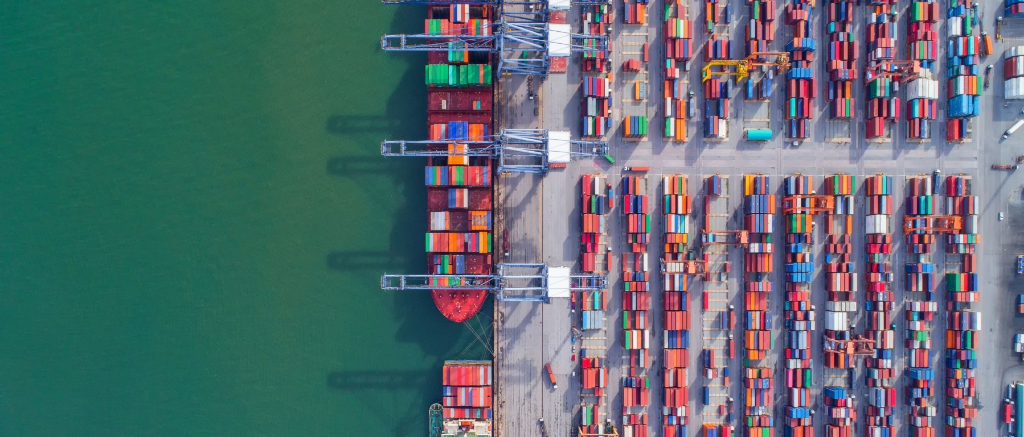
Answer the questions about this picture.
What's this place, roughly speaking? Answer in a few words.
port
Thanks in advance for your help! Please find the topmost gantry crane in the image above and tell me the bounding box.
[379,0,609,43]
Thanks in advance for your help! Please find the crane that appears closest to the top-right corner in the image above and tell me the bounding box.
[863,59,921,87]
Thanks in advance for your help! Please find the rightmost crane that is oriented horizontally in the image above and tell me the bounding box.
[903,214,963,236]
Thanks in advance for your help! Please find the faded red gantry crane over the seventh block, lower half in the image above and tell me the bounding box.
[822,333,875,359]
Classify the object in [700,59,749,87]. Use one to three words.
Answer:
crane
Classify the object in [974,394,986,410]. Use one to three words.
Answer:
vehicle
